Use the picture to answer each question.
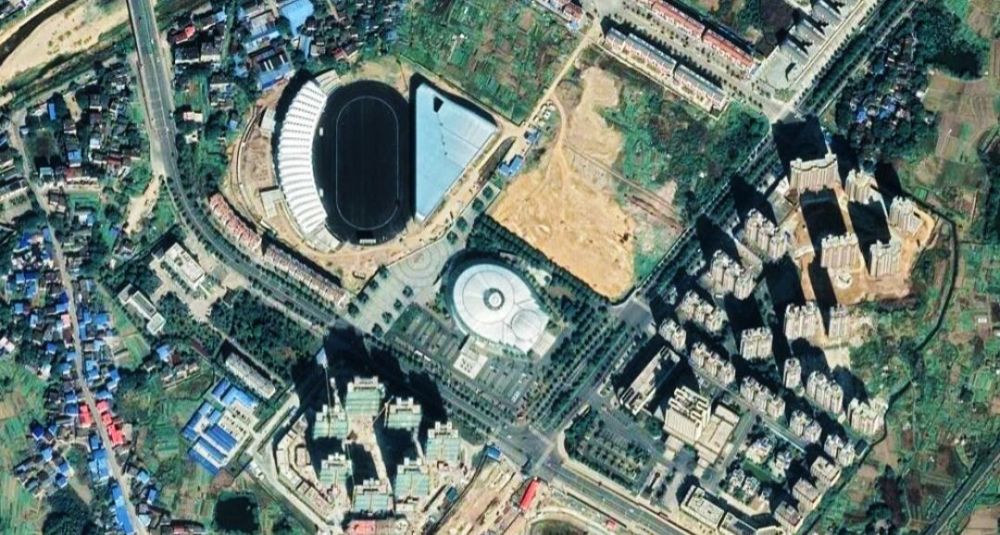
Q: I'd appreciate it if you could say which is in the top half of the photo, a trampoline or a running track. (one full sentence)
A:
There is a running track in the top half of the photo.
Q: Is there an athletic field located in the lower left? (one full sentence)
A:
No, no athletic field appears in the lower left.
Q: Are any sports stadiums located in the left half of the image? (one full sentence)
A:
Yes, a sports stadium can be seen in the left half of the image.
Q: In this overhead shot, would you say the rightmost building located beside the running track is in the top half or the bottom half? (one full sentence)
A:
The rightmost building located beside the running track is in the top half of the image.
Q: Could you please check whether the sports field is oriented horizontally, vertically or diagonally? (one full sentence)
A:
From this overhead view, the sports field appears to run vertically.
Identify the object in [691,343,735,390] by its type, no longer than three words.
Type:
building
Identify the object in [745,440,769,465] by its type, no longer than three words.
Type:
house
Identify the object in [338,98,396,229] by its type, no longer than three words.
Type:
sports field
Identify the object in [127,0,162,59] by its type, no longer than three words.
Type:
bridge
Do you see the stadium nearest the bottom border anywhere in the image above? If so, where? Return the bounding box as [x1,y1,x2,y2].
[445,256,550,354]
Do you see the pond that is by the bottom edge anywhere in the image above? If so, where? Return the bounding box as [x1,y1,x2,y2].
[214,496,259,535]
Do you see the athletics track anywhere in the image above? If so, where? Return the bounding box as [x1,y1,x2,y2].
[314,80,412,244]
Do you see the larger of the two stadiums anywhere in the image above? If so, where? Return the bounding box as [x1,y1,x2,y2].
[278,71,412,254]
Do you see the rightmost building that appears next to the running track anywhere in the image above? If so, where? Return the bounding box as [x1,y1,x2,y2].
[416,83,498,227]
